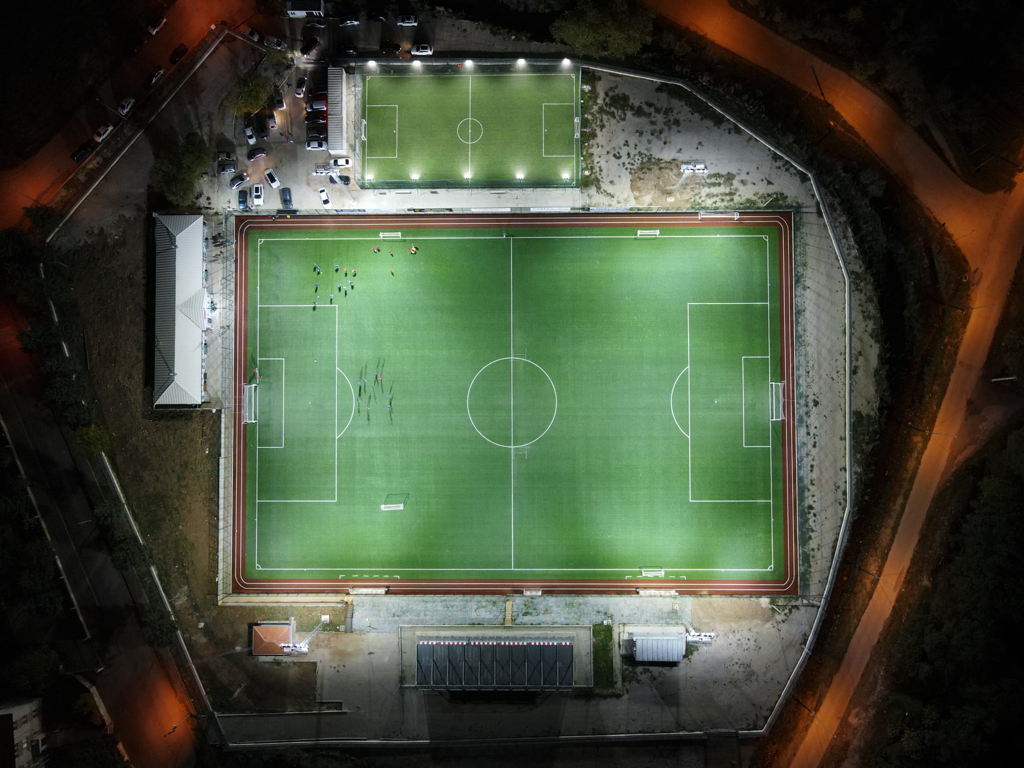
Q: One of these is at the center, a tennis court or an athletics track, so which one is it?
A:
athletics track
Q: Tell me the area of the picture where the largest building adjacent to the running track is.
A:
left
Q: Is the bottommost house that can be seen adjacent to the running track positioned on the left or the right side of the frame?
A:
left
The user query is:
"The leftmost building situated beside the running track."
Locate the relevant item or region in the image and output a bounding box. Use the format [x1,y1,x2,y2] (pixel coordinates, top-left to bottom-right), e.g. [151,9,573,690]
[149,214,212,405]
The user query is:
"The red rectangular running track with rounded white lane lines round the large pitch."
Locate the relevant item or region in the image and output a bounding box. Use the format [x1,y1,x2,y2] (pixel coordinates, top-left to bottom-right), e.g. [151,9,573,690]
[231,210,800,596]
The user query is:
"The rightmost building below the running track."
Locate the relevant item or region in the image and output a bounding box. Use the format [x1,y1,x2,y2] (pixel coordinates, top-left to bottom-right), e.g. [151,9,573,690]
[252,617,316,662]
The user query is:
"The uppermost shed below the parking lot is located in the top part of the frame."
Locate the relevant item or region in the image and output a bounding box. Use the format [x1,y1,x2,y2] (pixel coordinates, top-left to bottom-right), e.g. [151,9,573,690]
[327,68,347,155]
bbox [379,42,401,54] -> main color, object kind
black vehicle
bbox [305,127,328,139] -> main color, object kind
black vehicle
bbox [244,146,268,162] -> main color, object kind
black car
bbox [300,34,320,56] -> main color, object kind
black car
